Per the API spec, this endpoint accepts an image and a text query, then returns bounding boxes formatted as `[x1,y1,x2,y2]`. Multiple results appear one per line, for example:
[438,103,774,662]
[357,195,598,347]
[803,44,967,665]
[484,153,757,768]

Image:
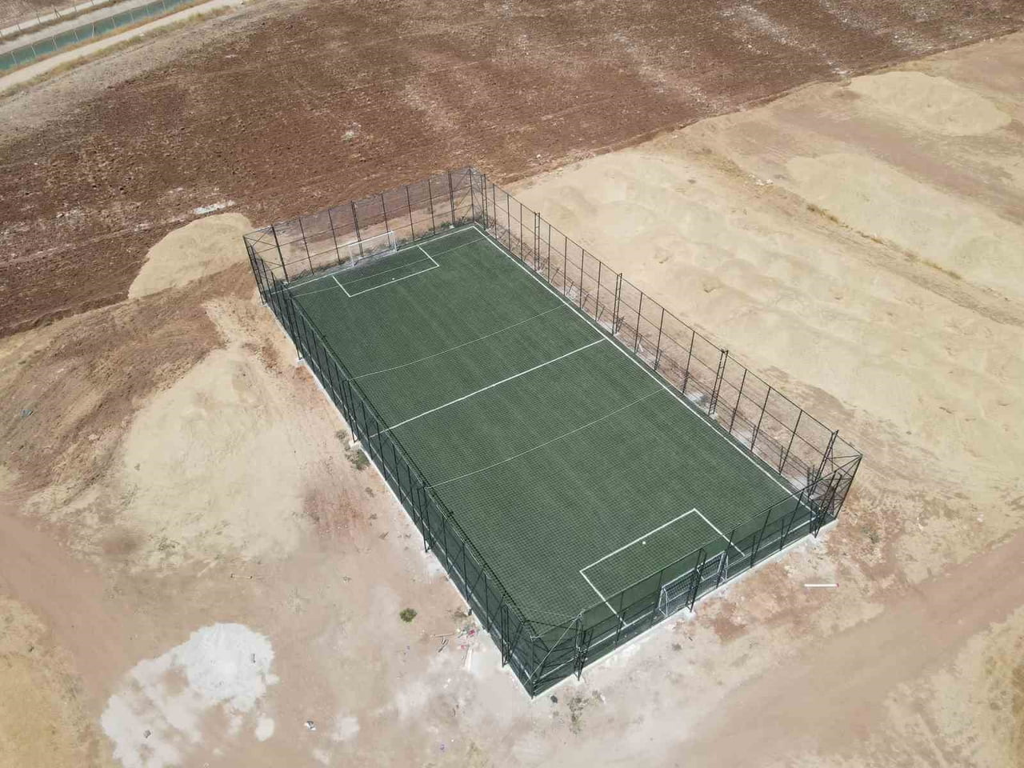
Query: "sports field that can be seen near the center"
[266,222,833,696]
